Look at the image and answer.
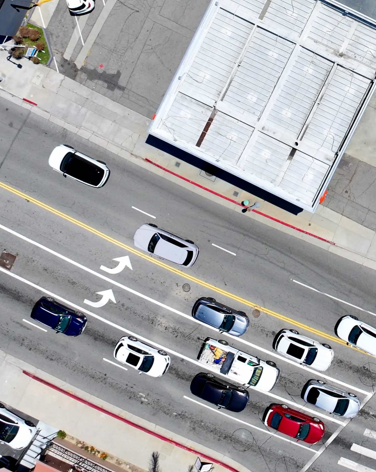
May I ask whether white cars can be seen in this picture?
Yes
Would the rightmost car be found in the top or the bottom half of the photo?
bottom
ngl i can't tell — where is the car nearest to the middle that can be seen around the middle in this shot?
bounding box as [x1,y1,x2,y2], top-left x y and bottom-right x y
[137,223,197,267]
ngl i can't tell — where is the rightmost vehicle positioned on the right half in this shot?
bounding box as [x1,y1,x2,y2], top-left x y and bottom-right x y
[334,315,376,357]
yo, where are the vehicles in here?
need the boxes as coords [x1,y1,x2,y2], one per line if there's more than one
[137,223,197,267]
[190,370,250,412]
[265,402,323,444]
[334,315,376,357]
[273,328,334,371]
[191,296,250,337]
[66,0,96,13]
[201,338,275,389]
[0,406,35,448]
[113,336,171,376]
[27,296,90,338]
[50,145,111,188]
[301,377,360,420]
